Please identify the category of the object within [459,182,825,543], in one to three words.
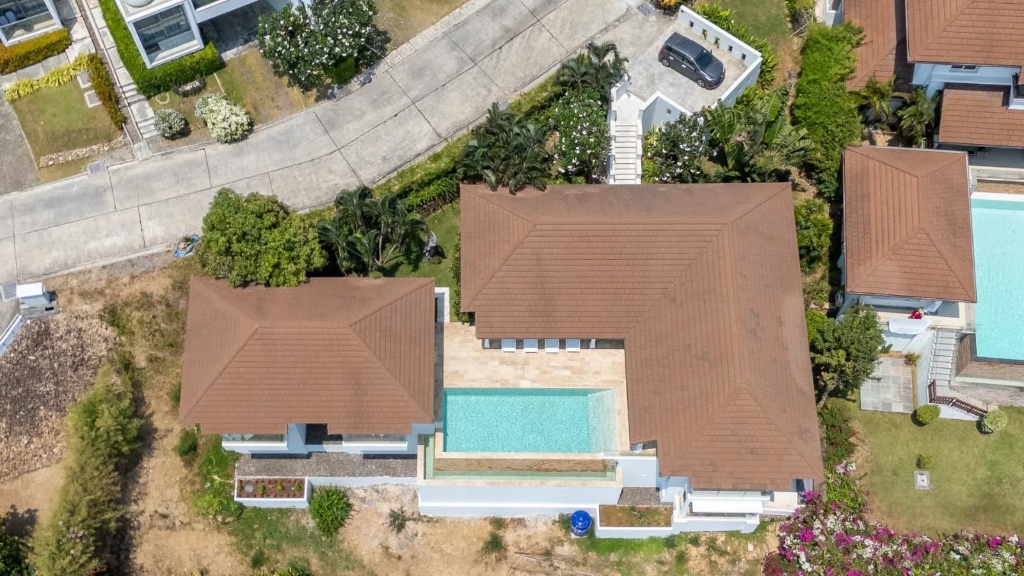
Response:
house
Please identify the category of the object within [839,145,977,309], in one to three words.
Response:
building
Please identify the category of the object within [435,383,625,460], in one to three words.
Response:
swimming pool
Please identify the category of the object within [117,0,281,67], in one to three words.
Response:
house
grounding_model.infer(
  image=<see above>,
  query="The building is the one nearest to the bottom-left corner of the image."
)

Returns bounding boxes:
[178,275,436,461]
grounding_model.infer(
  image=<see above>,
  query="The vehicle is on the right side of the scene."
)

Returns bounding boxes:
[656,29,726,87]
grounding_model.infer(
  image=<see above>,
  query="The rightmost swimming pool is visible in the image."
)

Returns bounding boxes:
[947,193,1024,415]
